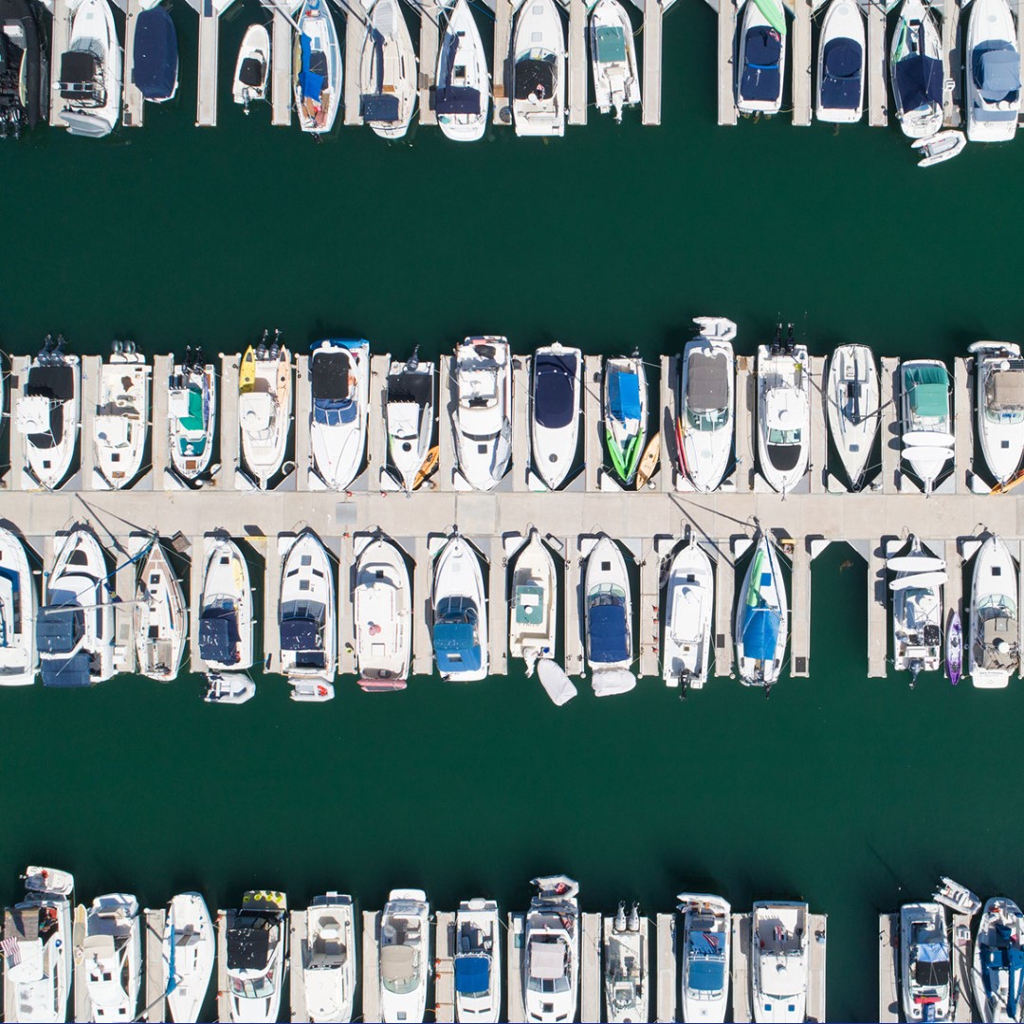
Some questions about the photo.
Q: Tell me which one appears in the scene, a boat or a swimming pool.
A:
boat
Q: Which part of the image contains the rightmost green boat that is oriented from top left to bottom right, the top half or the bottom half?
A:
top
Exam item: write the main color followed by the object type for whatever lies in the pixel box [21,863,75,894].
white boat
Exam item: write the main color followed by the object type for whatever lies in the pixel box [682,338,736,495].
white boat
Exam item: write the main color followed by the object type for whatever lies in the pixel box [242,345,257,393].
yellow boat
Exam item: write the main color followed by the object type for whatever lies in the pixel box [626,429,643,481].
green boat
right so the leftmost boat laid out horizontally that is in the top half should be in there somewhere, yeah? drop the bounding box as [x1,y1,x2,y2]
[61,112,116,139]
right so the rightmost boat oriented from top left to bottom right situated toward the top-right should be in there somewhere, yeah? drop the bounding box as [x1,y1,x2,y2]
[754,0,783,35]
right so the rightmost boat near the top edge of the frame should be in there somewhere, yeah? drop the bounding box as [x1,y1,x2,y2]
[964,0,1023,143]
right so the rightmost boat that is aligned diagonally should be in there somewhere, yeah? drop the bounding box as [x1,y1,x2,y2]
[991,471,1024,495]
